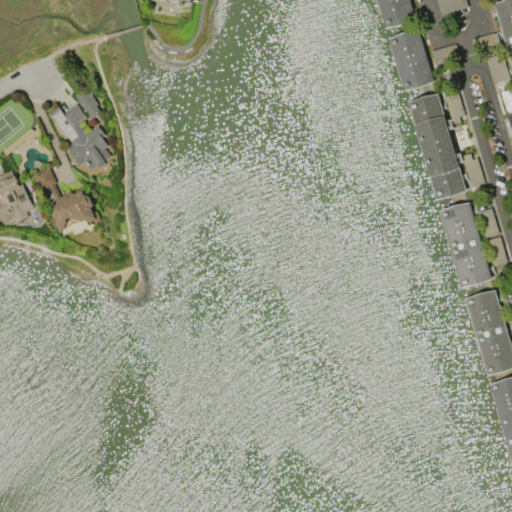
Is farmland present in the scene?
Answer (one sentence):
No, there is no farmland in the image.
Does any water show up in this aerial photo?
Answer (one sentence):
Yes, there's water in this view.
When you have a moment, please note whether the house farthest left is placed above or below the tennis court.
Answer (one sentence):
In the image, the house farthest left sits below the tennis court.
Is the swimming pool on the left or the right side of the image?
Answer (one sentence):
You can find the swimming pool on the left side of the picture.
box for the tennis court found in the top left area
[0,96,34,153]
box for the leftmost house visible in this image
[0,170,34,225]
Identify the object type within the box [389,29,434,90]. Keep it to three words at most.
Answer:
building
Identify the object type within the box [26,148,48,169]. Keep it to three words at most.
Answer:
swimming pool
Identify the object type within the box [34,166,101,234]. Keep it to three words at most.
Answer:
house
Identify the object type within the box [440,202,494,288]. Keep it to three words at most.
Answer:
building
